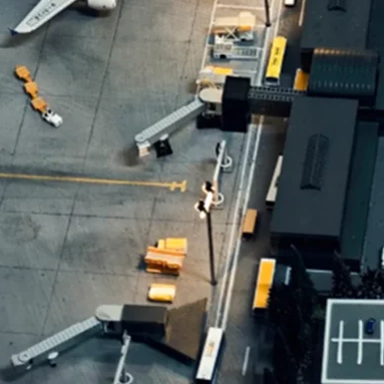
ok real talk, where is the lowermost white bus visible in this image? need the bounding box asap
[197,329,225,384]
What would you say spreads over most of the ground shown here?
paved ground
